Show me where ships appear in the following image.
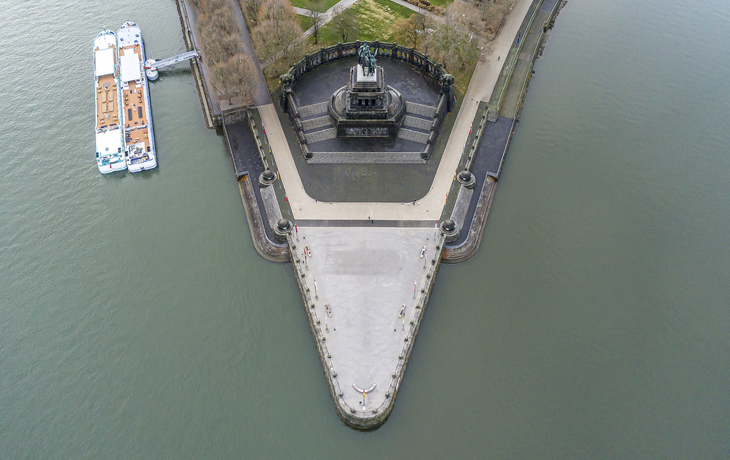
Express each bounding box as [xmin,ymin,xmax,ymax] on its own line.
[94,22,128,173]
[118,19,160,173]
